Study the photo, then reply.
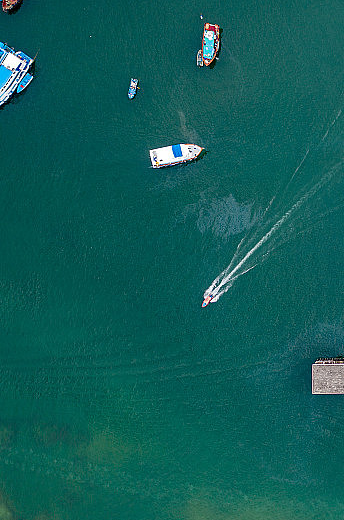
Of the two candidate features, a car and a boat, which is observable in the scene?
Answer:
boat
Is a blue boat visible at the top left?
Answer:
Yes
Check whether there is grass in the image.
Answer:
No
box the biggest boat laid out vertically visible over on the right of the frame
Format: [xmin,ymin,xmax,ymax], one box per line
[201,23,221,67]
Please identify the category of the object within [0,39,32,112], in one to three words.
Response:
vessel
